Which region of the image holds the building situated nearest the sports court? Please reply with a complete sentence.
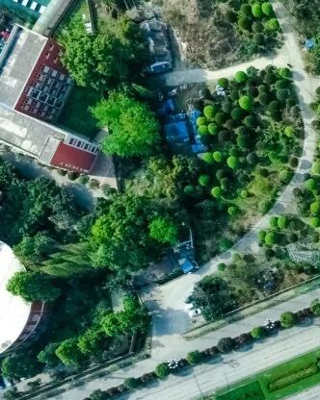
The building situated nearest the sports court is in the top left part of the image.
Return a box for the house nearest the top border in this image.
[137,18,173,72]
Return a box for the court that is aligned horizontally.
[0,0,53,25]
